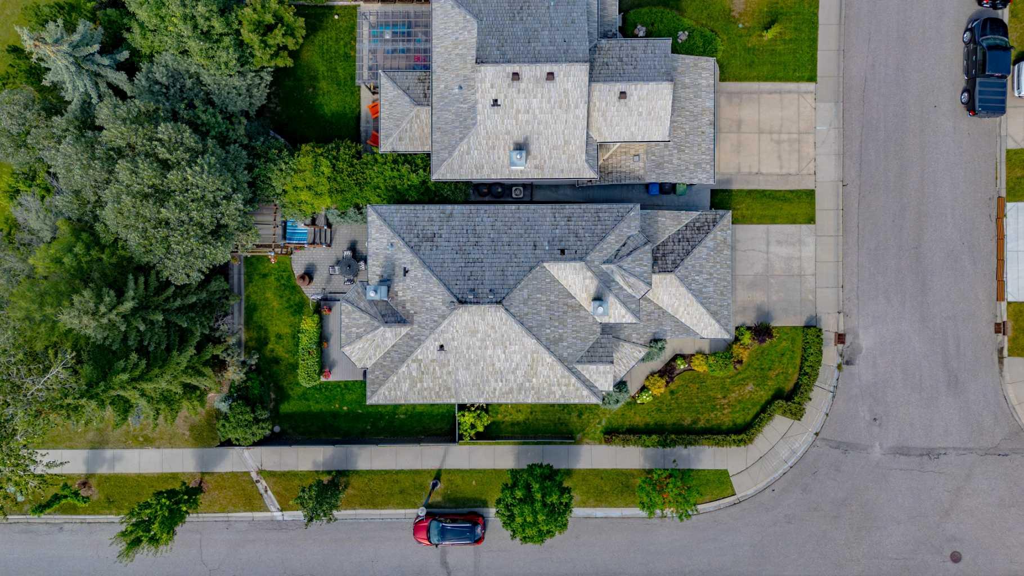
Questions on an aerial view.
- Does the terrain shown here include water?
No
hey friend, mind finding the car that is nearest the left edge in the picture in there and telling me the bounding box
[414,510,487,550]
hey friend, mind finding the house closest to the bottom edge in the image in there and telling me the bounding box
[338,202,734,407]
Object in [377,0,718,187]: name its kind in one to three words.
house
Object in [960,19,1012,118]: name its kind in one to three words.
truck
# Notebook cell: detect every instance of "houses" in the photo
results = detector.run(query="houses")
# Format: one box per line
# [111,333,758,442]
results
[377,0,718,187]
[338,202,734,407]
